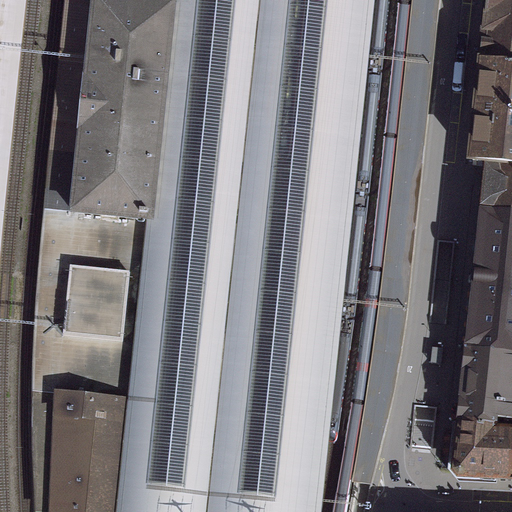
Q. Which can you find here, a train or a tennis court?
train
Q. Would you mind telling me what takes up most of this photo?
buildings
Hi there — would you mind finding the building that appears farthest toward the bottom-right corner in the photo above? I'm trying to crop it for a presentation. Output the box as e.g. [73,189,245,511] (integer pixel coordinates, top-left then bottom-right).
[448,417,512,484]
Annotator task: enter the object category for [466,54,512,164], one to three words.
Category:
building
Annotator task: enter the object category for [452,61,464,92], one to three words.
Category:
vehicle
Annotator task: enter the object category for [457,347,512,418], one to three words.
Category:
building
